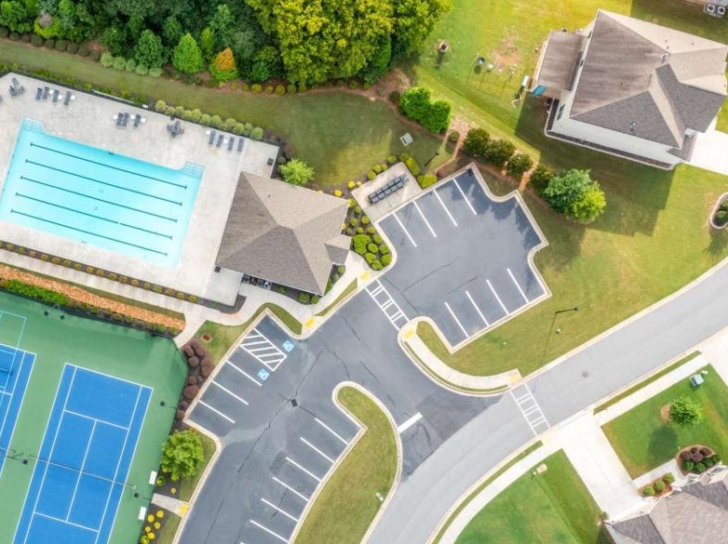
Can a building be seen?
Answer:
Yes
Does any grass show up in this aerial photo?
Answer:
Yes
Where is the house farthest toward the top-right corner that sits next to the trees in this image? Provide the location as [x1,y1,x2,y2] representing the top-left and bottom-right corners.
[526,10,728,169]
